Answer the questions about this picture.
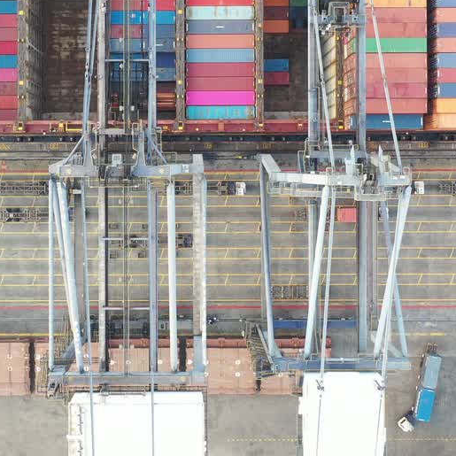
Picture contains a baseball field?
No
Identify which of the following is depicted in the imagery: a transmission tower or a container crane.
container crane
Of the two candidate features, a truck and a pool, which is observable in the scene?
truck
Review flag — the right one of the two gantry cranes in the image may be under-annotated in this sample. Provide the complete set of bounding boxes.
[234,0,416,456]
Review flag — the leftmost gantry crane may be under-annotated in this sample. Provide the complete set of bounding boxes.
[25,0,218,456]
